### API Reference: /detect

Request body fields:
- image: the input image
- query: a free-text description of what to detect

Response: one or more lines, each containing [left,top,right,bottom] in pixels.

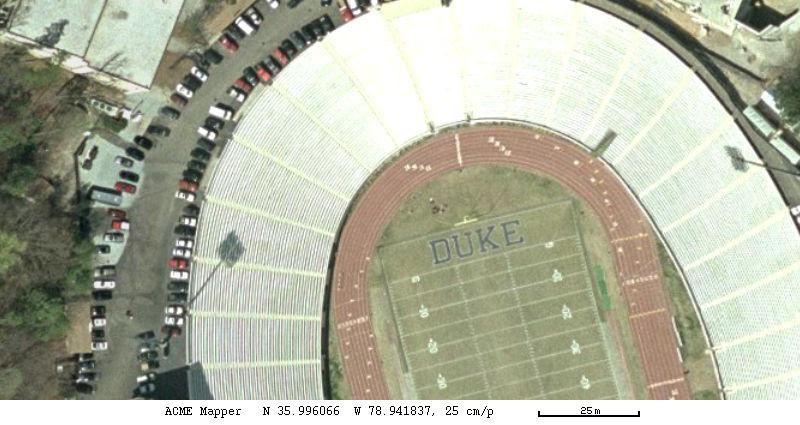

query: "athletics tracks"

[333,126,695,425]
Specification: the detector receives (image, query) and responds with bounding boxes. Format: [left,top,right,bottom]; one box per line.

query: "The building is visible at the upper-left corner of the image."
[0,0,184,90]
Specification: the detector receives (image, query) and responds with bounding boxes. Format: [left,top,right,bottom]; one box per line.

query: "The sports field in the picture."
[378,199,633,425]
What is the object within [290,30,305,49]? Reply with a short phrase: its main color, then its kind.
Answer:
gray car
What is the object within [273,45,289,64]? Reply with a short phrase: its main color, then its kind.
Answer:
red car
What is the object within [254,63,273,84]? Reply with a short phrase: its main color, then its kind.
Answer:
red vehicle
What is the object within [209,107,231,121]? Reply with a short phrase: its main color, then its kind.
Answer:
white vehicle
